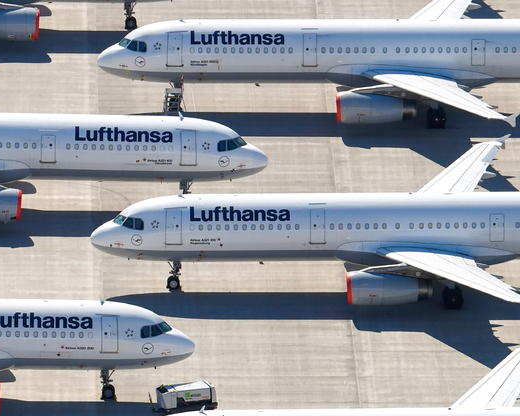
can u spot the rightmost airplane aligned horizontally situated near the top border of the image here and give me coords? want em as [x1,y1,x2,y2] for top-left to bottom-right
[97,0,520,130]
